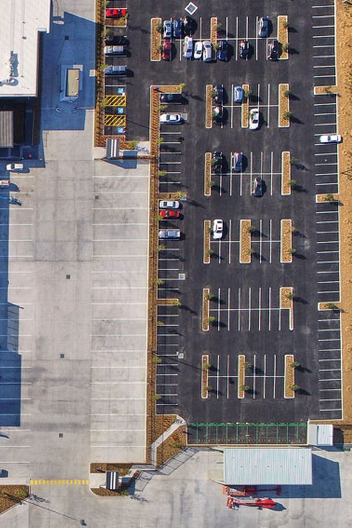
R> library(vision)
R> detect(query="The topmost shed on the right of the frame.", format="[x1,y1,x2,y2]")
[311,425,333,445]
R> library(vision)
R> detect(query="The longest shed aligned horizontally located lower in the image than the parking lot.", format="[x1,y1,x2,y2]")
[210,446,313,485]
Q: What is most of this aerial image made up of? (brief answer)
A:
paved ground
